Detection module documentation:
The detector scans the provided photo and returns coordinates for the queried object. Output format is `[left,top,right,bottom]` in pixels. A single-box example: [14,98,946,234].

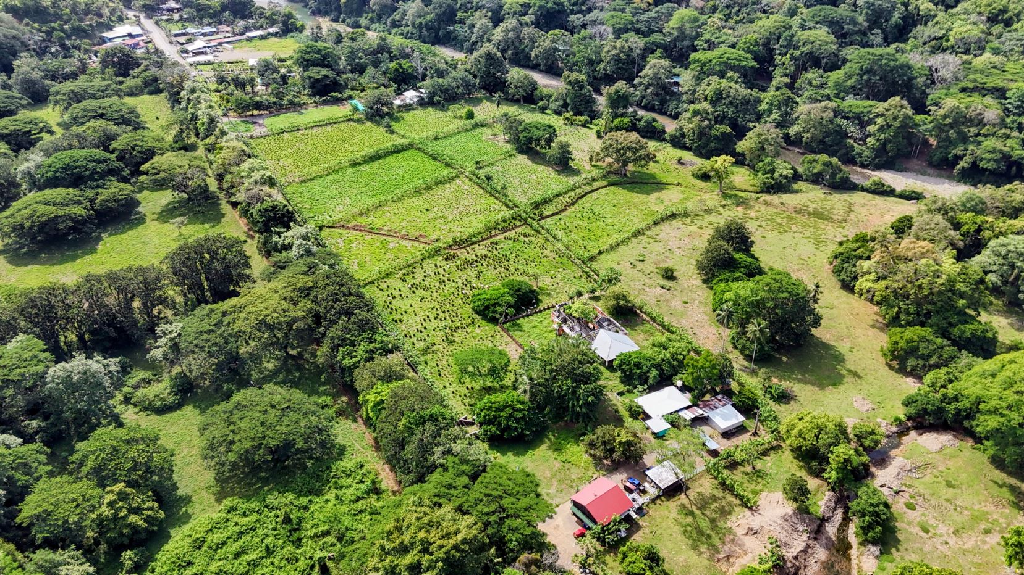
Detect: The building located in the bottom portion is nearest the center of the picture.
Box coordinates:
[592,333,641,368]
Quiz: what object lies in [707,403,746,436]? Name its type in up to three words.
house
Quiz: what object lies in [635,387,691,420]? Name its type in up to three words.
house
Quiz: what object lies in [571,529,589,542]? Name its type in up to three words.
vehicle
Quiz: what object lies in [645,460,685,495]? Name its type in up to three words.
shed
